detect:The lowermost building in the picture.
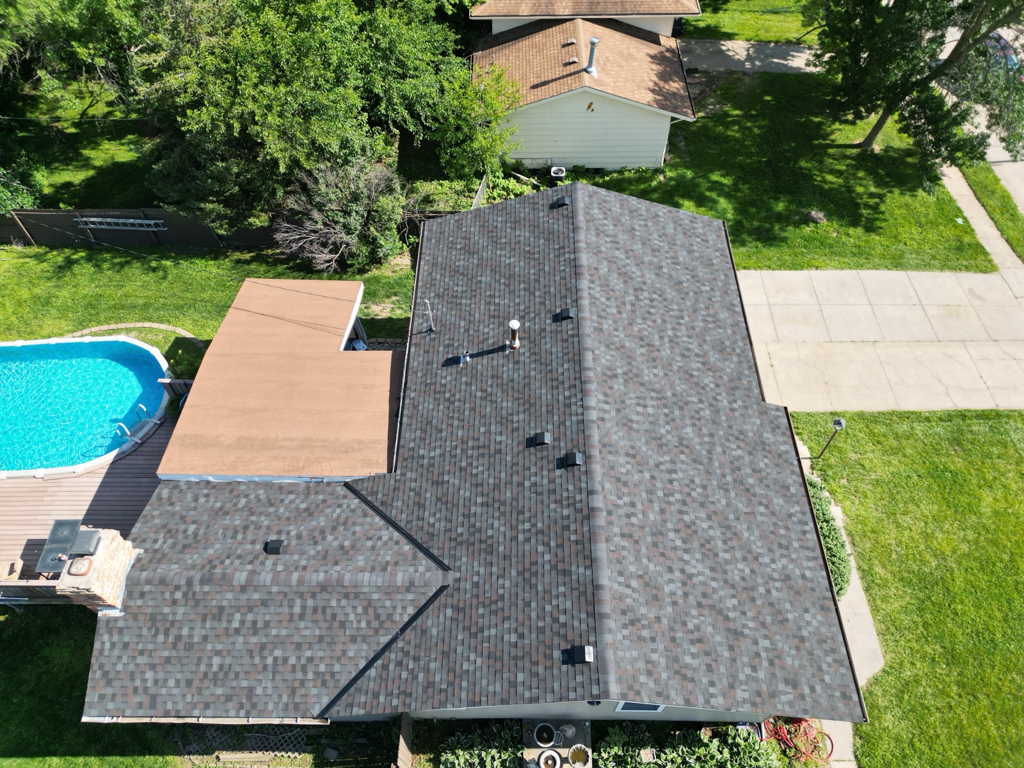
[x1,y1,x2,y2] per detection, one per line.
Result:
[60,181,868,725]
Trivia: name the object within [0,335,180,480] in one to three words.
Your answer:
swimming pool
